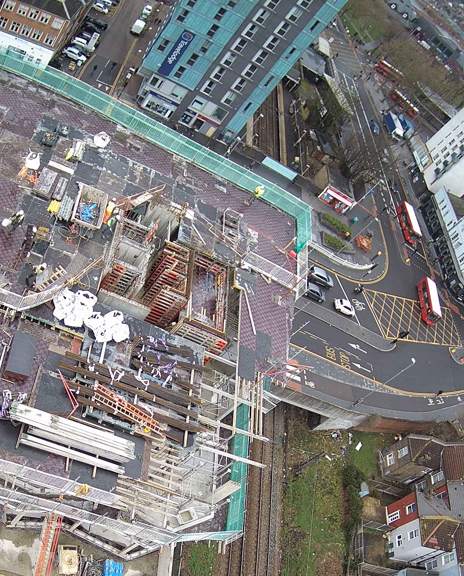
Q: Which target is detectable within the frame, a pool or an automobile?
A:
automobile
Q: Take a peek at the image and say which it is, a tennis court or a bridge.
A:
bridge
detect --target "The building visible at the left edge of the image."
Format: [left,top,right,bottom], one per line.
[0,0,94,67]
